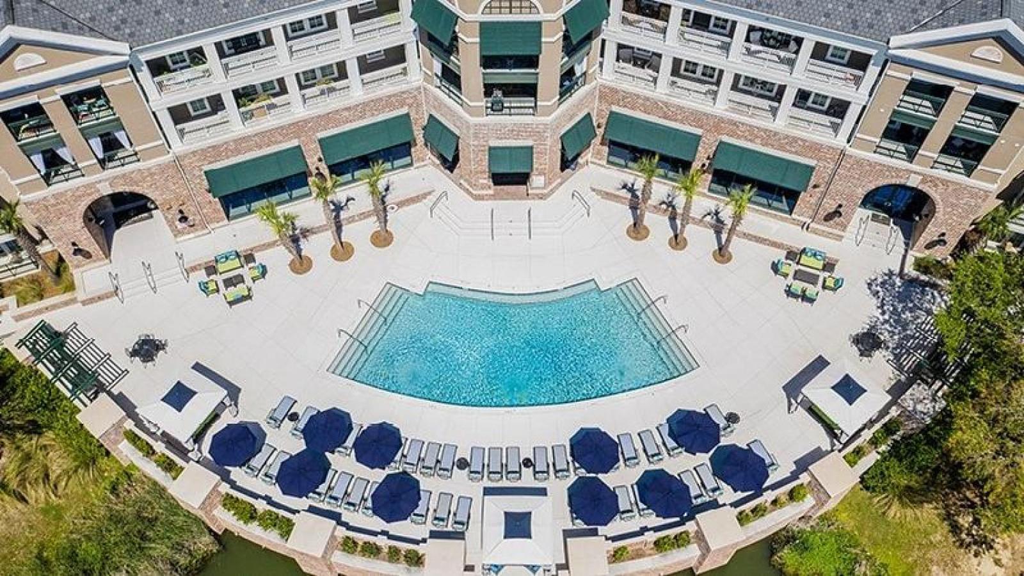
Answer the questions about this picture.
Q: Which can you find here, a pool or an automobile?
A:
pool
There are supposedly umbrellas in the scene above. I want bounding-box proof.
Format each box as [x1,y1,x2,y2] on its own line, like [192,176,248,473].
[568,480,616,529]
[569,430,616,474]
[638,469,691,521]
[304,411,352,454]
[372,475,421,523]
[213,421,267,471]
[276,449,330,499]
[712,446,765,498]
[354,425,404,471]
[668,411,718,457]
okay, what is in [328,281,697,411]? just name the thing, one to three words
swimming pool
